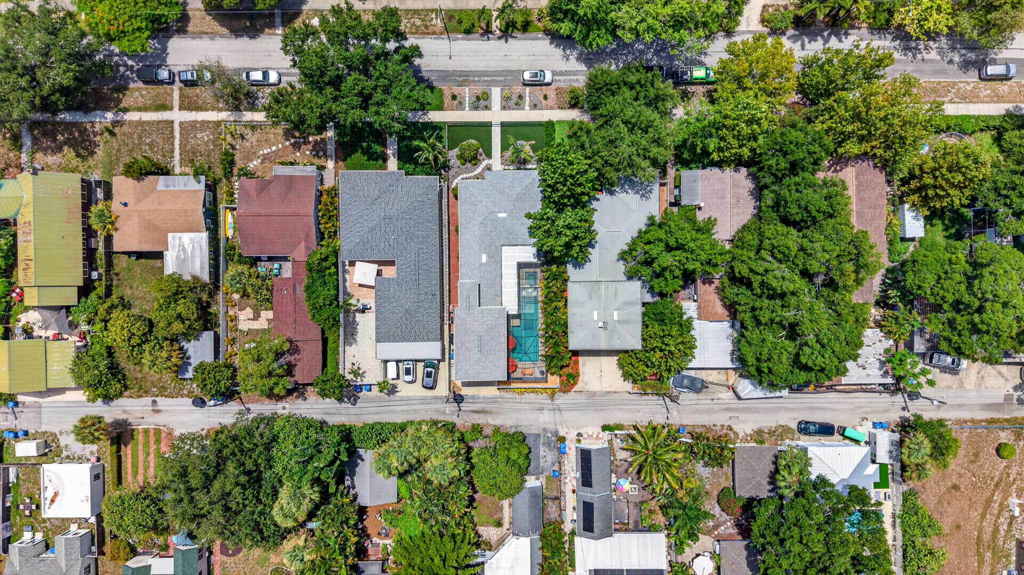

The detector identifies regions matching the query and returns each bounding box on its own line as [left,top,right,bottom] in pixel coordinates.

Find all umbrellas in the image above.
[352,261,379,288]
[692,554,713,575]
[507,357,519,374]
[615,476,630,491]
[506,336,517,351]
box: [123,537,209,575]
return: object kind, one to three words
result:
building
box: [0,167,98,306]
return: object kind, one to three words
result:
house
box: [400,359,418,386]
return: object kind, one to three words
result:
car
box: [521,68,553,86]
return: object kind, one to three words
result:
car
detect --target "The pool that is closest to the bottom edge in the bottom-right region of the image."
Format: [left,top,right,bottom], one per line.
[843,507,886,534]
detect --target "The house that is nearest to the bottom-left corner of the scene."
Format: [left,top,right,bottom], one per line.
[9,527,100,575]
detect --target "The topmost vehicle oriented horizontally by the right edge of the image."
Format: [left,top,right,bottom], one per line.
[976,62,1014,82]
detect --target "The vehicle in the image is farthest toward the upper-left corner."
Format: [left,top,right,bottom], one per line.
[136,66,175,85]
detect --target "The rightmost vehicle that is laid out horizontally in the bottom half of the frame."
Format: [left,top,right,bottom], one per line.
[924,352,964,372]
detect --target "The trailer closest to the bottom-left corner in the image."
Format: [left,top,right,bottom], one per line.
[16,436,60,456]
